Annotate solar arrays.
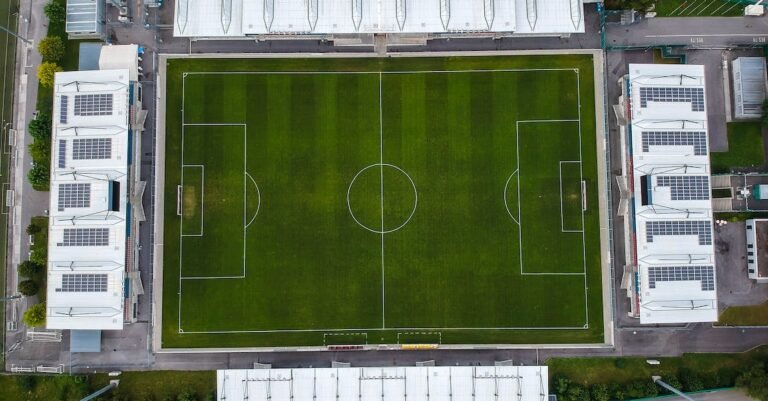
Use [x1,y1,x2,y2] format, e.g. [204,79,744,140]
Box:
[643,132,706,155]
[649,266,715,290]
[55,274,106,292]
[57,229,109,246]
[646,221,712,244]
[74,94,112,115]
[73,138,111,160]
[640,88,704,111]
[58,139,65,168]
[58,184,90,211]
[658,176,710,199]
[60,96,67,124]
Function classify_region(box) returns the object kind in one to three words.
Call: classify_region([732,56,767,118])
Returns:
shed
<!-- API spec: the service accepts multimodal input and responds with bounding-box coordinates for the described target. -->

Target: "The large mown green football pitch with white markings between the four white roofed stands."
[161,55,604,349]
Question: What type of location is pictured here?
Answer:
sports ground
